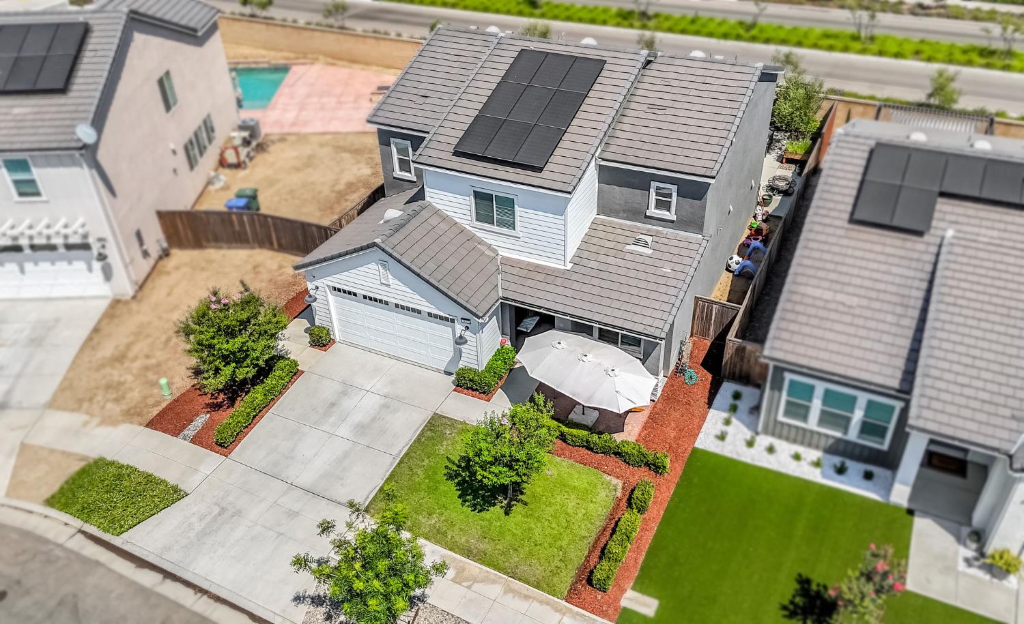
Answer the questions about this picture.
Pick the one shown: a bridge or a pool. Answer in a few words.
pool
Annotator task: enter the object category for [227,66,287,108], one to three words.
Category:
swimming pool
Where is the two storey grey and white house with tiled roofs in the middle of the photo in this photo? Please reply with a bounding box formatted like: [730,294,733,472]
[291,23,786,404]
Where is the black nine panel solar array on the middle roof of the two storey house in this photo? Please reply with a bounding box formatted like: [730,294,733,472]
[455,50,605,170]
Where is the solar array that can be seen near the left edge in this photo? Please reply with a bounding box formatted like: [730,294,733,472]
[0,20,87,92]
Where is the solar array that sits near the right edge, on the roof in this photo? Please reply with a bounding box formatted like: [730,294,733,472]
[851,144,1024,235]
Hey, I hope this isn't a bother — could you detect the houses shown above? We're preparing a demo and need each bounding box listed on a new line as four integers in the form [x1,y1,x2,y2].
[757,113,1024,553]
[0,0,240,302]
[291,23,786,404]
